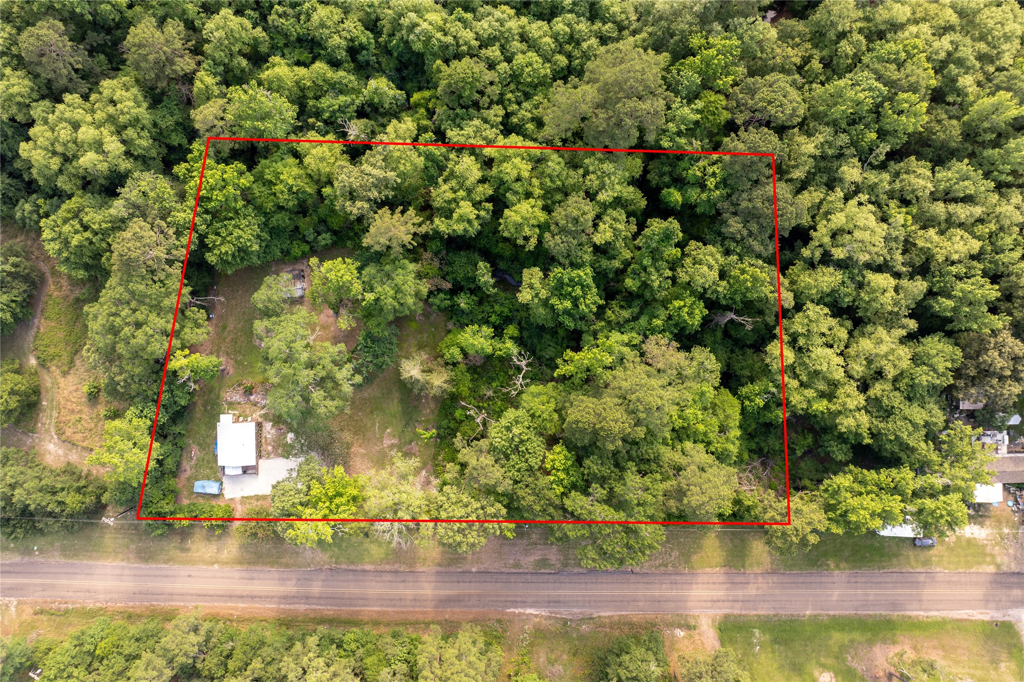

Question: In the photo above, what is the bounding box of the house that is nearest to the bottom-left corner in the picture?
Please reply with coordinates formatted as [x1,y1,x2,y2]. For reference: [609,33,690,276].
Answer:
[217,414,259,477]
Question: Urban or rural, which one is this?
rural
